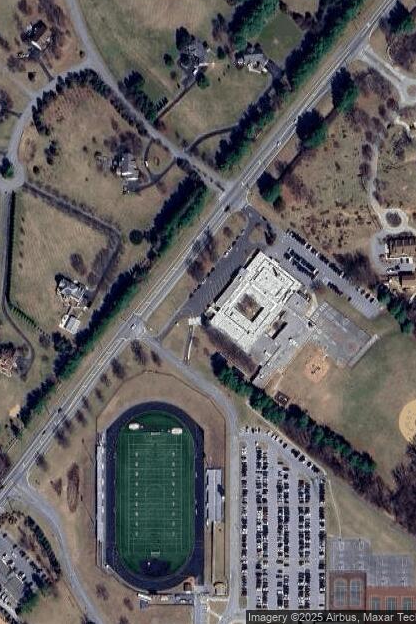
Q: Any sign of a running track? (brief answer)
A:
Yes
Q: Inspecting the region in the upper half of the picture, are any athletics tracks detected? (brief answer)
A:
No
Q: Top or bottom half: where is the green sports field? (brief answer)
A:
bottom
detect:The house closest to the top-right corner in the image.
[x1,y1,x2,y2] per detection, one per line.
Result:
[237,52,266,70]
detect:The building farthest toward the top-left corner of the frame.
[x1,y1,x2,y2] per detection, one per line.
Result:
[23,21,51,50]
